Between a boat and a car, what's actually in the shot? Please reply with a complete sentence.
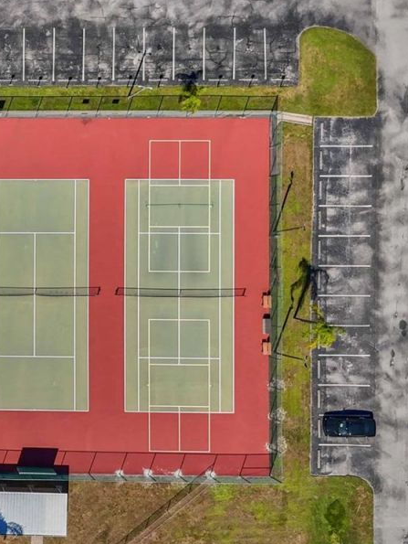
I can see a car in this picture.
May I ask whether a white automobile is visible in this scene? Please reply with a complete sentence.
No, no white automobile is visible in the scene.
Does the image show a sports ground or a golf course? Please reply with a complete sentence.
This looks like a sports ground.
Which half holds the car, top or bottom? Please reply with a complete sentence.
It is in the bottom half that the car appears.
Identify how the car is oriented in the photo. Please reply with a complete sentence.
The car is laid out horizontally.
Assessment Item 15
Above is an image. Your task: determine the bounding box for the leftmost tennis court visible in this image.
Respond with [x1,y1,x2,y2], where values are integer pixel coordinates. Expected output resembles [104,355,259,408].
[0,178,99,411]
